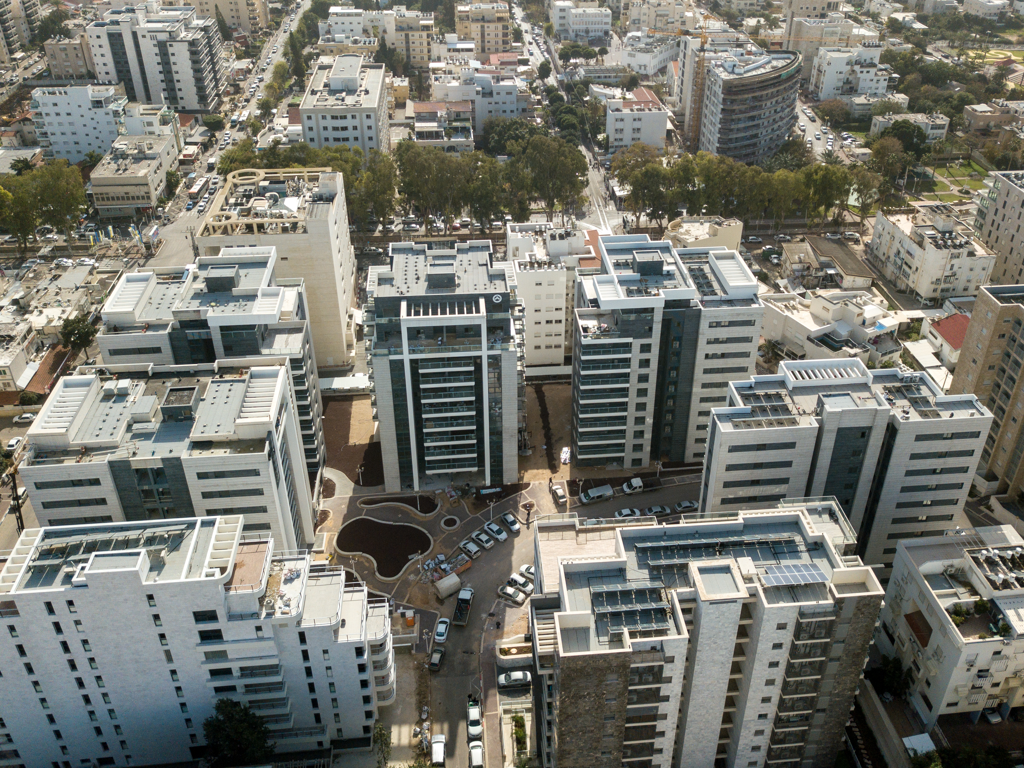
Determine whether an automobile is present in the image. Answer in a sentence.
Yes, the frame does contain an automobile.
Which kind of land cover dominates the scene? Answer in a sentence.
For the most part, this view shows buildings.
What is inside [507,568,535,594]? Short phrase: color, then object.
white car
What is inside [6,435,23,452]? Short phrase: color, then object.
white car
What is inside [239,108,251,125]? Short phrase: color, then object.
white vehicle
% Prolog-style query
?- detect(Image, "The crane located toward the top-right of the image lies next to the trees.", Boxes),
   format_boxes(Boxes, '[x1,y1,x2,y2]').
[661,13,862,146]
